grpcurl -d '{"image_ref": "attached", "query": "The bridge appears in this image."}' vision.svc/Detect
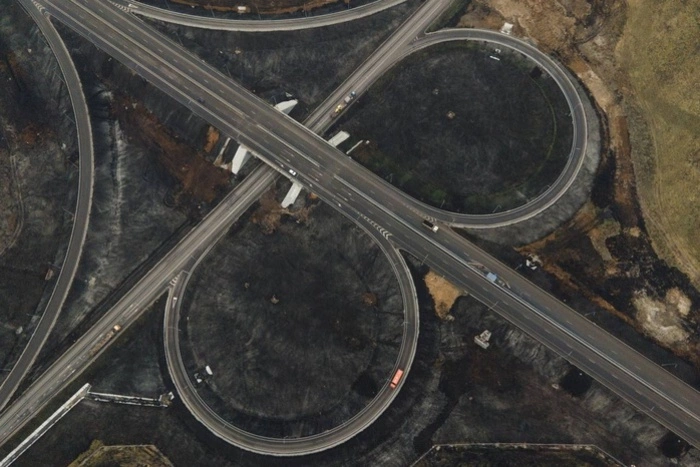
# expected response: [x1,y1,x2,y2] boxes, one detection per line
[232,99,350,208]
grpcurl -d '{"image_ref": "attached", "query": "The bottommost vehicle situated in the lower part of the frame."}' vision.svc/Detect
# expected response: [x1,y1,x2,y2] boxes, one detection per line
[390,369,404,389]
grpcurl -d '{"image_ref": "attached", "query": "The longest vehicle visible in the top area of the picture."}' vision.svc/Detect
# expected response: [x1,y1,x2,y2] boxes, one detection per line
[329,90,357,118]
